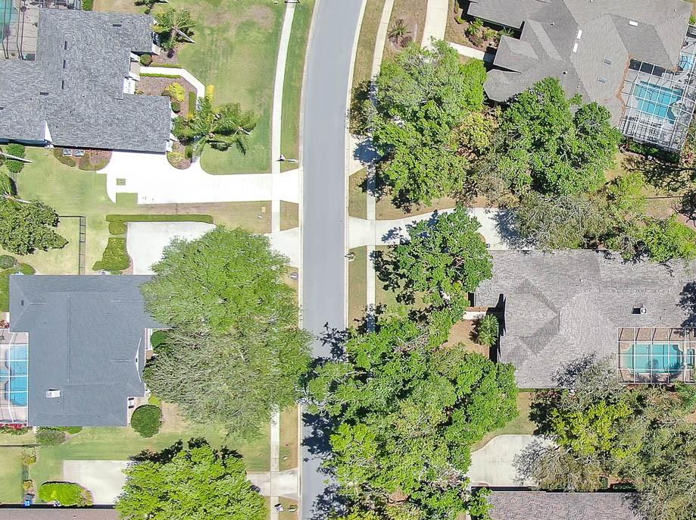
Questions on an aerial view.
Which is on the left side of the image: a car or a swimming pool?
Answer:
swimming pool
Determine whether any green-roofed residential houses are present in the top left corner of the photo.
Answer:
No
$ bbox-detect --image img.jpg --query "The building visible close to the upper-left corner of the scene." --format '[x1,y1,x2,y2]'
[0,13,176,154]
